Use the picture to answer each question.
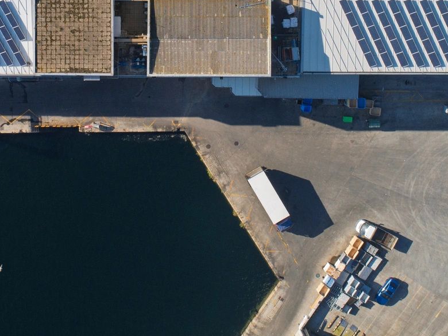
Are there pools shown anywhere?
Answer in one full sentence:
No, there's no pool here.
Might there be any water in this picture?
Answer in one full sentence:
Yes, the picture does contain water.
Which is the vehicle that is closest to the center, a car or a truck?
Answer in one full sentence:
Looking closely, the vehicle that is closest to the center is a truck.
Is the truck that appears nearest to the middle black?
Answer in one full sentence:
No, from above the truck that appears nearest to the middle looks white.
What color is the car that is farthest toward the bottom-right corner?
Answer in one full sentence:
The car that is farthest toward the bottom-right corner is blue.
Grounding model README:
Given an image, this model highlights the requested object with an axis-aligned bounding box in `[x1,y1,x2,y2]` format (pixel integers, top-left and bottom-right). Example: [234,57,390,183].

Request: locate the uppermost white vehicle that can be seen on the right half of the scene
[245,165,297,233]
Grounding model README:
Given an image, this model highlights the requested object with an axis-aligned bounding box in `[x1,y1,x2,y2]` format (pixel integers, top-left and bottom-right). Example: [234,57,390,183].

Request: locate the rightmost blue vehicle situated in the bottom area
[371,272,398,305]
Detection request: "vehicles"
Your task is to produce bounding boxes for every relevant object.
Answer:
[371,272,398,305]
[353,218,392,247]
[245,165,297,233]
